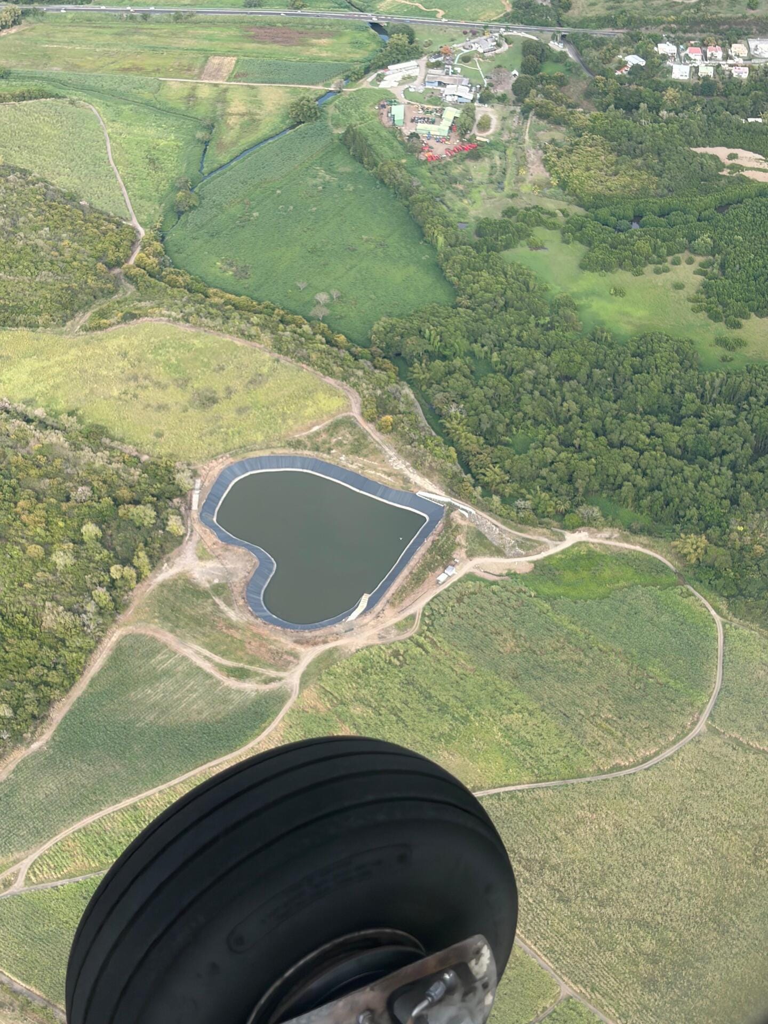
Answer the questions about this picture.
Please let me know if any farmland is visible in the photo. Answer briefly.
Yes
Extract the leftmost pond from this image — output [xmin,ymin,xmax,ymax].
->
[198,455,447,631]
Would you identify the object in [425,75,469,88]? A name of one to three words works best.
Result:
building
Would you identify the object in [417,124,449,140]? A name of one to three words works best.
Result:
shed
